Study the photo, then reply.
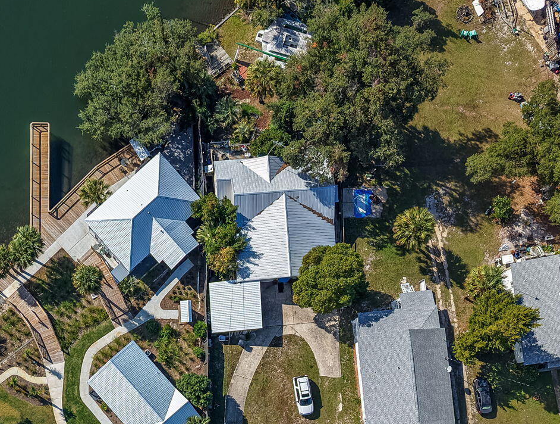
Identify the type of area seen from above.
residential area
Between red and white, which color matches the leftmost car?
white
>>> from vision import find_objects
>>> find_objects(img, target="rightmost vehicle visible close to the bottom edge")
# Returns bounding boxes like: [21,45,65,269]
[474,378,493,416]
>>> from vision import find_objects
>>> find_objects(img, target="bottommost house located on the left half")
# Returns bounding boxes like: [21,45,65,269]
[87,341,200,424]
